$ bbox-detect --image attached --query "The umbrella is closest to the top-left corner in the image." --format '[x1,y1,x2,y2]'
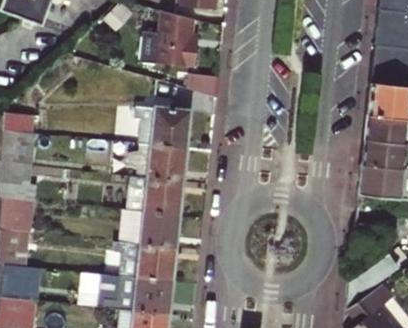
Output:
[112,142,126,156]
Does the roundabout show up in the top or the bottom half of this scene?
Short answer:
bottom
